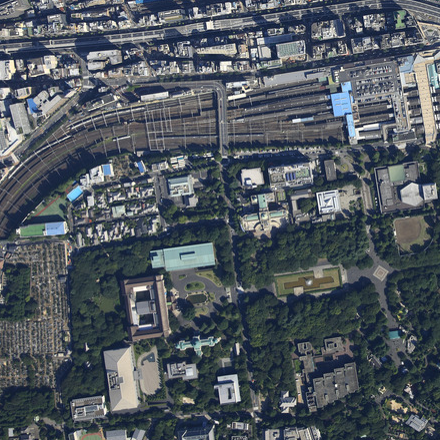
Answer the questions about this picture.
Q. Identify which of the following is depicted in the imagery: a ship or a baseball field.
baseball field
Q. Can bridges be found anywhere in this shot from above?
Yes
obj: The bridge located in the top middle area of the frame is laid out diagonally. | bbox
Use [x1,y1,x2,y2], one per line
[130,78,229,154]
